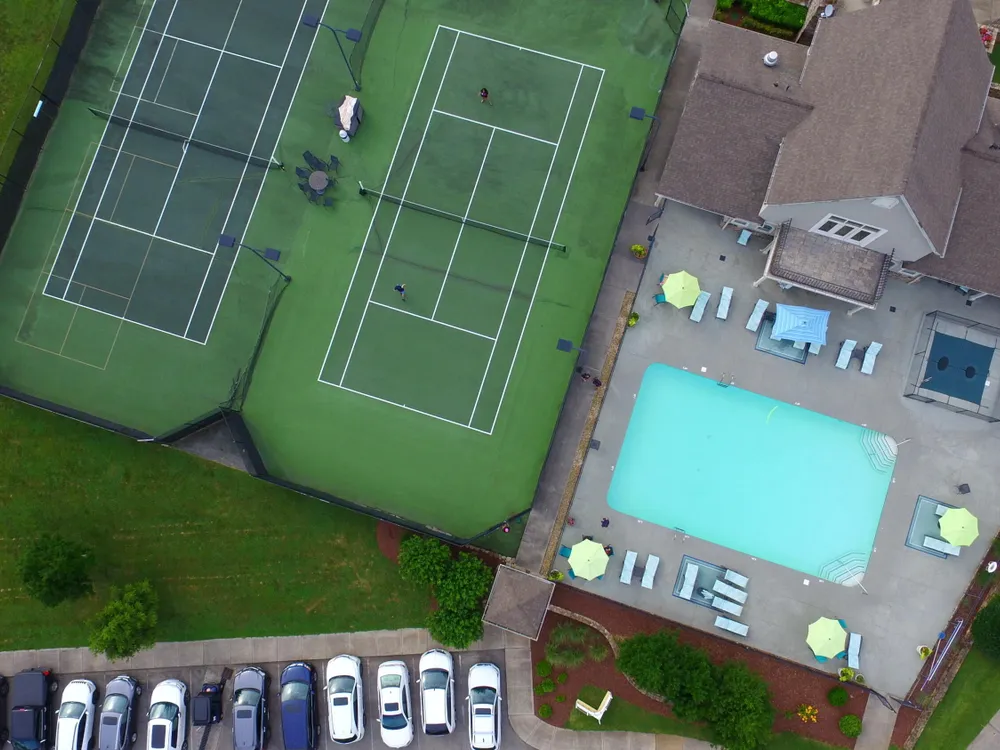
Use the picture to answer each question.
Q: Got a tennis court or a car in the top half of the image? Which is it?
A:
tennis court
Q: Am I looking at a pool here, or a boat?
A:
pool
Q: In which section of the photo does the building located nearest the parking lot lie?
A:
bottom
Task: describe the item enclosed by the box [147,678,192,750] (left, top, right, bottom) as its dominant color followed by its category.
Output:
white car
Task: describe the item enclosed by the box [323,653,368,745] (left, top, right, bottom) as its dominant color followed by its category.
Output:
white car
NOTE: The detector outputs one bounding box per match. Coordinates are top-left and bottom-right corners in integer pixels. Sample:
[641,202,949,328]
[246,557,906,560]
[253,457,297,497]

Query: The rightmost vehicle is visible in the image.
[464,661,505,750]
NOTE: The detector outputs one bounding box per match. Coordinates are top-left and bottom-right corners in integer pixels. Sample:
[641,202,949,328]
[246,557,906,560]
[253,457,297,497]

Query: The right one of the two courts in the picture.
[240,0,689,537]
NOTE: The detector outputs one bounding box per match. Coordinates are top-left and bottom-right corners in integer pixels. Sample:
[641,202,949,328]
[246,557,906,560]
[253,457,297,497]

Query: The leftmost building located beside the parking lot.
[481,562,555,641]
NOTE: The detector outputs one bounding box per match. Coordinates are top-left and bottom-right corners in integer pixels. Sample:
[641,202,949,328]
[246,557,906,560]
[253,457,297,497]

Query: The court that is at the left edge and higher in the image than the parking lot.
[0,0,384,434]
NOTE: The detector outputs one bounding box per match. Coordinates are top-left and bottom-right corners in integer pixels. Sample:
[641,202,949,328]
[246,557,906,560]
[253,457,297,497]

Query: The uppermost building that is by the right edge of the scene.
[653,0,1000,316]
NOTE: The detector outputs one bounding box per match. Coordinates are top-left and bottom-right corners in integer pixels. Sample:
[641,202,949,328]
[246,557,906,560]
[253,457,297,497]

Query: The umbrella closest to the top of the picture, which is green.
[661,271,701,311]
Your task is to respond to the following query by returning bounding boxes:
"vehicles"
[277,661,321,750]
[323,653,368,745]
[464,661,505,750]
[10,660,60,750]
[55,678,101,750]
[229,665,272,750]
[416,647,457,739]
[375,659,414,748]
[99,675,144,750]
[147,678,192,750]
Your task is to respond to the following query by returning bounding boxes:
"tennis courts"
[0,0,384,434]
[240,0,689,537]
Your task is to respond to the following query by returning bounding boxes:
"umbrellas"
[931,505,977,548]
[661,271,701,311]
[566,538,608,581]
[771,305,828,346]
[806,616,847,658]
